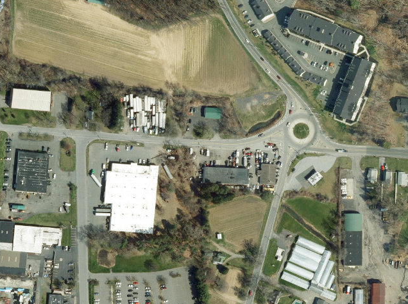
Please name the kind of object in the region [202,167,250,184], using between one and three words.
building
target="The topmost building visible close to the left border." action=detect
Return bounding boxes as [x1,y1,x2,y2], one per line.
[11,88,51,111]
